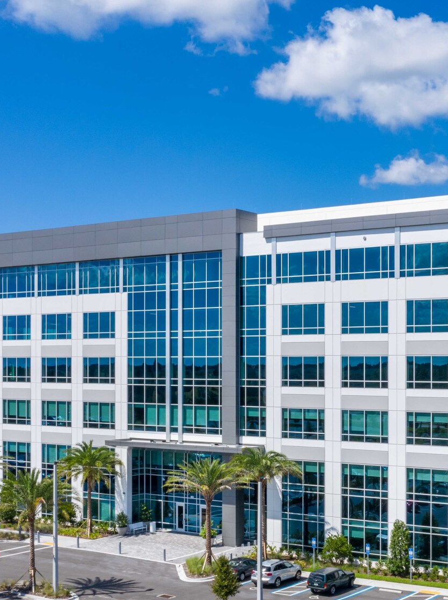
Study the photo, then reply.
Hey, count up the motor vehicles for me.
three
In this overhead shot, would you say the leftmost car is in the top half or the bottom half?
bottom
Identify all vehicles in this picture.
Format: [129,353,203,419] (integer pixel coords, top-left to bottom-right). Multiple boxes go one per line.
[237,562,257,582]
[251,559,304,587]
[305,566,355,595]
